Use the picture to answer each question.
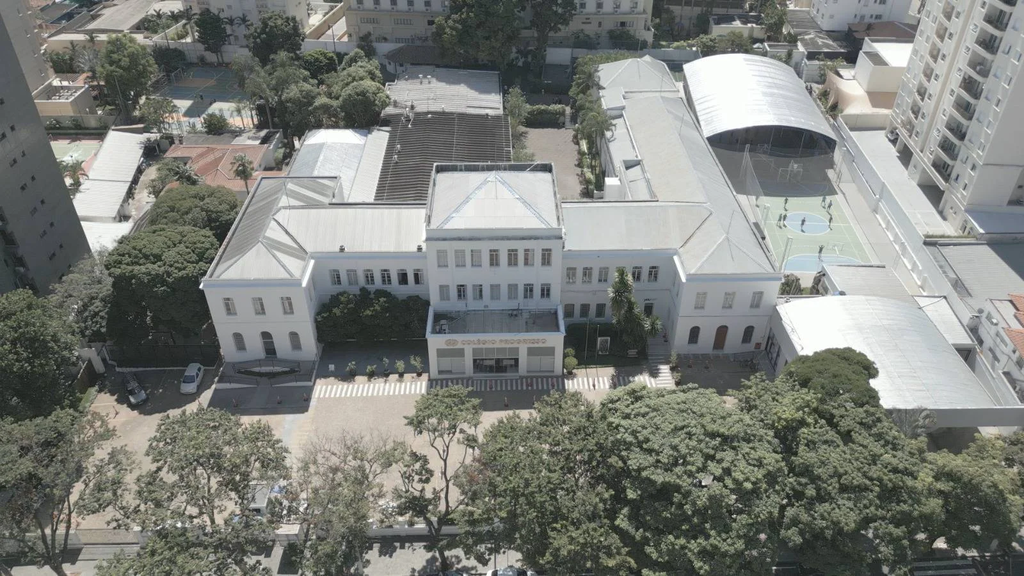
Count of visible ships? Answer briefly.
zero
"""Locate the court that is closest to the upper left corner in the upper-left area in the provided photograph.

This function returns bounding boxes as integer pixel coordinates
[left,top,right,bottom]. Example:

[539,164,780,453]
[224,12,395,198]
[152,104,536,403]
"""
[52,142,107,163]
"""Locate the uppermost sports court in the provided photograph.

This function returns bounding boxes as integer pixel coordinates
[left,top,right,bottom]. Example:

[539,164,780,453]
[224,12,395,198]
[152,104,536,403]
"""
[154,65,256,129]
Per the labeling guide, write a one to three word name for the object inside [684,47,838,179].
building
